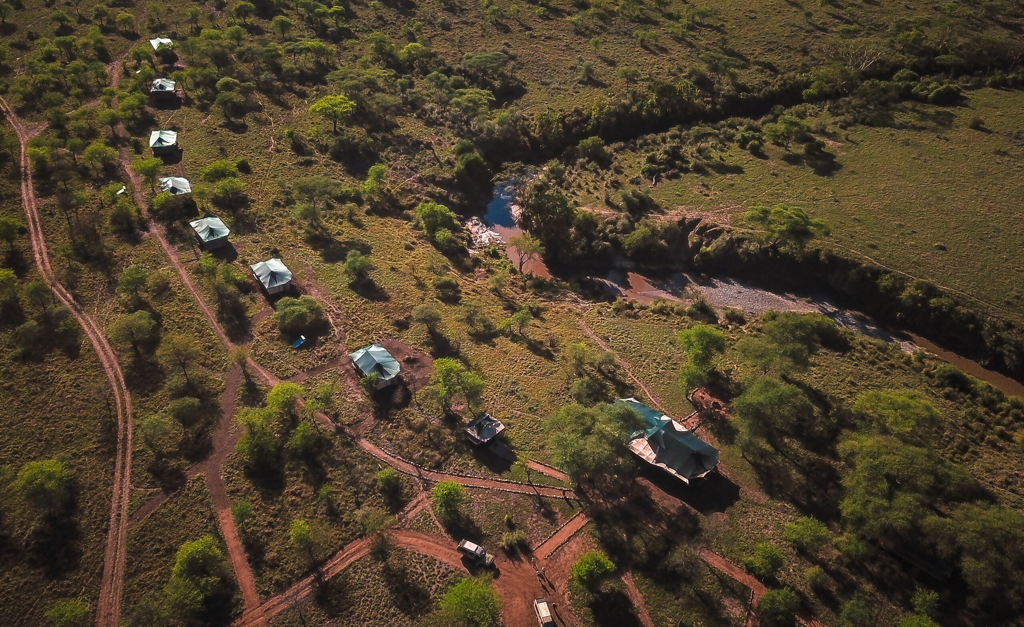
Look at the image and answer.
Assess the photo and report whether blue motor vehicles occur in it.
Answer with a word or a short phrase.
No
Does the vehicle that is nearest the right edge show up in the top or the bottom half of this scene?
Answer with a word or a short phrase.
bottom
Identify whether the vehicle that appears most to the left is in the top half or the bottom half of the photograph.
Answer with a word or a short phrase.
bottom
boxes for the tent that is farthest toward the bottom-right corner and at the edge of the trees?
[608,397,722,490]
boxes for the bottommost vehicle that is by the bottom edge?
[534,598,555,627]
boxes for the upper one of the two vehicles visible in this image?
[459,539,495,571]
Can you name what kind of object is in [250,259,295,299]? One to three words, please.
tent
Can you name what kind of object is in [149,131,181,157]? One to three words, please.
tent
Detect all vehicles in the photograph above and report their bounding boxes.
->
[534,598,555,627]
[459,539,495,571]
